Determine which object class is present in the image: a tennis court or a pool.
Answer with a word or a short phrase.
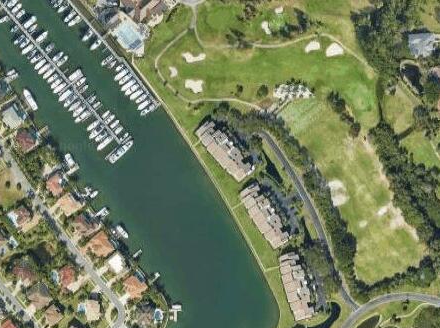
pool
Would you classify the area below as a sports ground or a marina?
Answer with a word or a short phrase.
marina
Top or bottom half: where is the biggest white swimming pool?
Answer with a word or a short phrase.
top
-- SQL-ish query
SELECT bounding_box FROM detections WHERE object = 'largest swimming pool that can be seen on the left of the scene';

[110,12,145,56]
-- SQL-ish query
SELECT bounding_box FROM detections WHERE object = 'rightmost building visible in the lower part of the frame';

[278,253,316,319]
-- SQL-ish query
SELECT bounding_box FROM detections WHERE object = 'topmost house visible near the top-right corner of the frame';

[408,32,435,53]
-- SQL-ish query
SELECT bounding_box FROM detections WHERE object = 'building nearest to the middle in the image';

[194,120,254,182]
